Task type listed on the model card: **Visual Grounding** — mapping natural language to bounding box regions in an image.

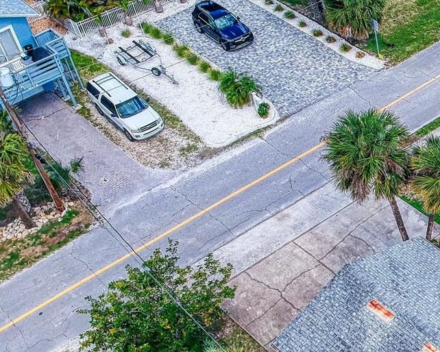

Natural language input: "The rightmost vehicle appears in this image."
[187,0,258,52]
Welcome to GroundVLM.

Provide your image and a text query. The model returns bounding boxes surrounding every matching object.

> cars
[187,0,258,52]
[84,67,169,142]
